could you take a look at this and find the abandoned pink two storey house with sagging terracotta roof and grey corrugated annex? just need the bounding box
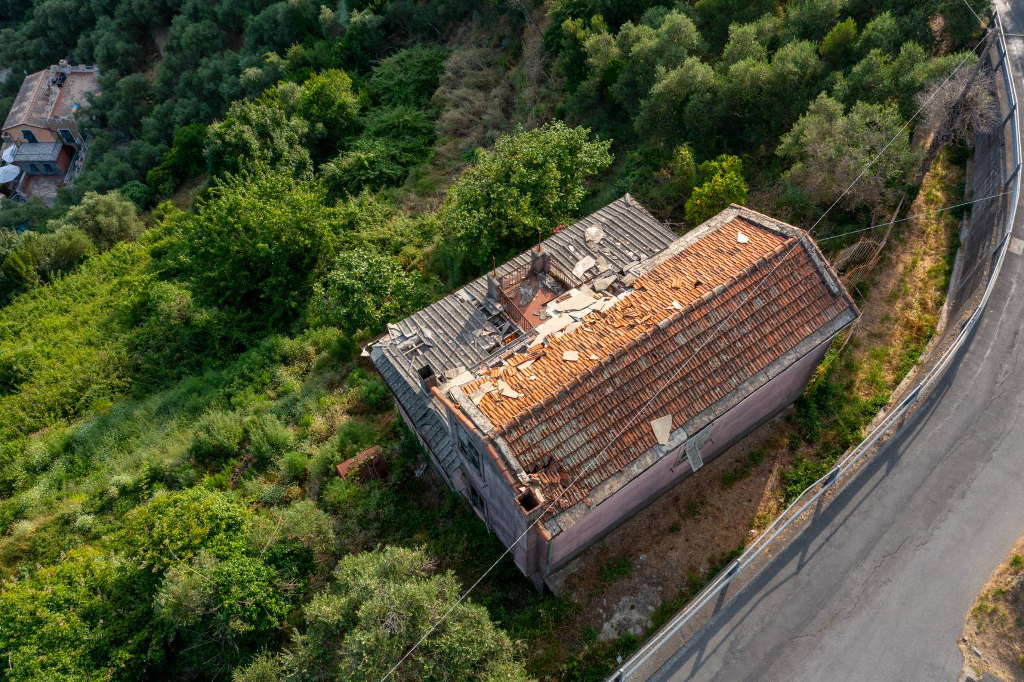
[358,195,859,601]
